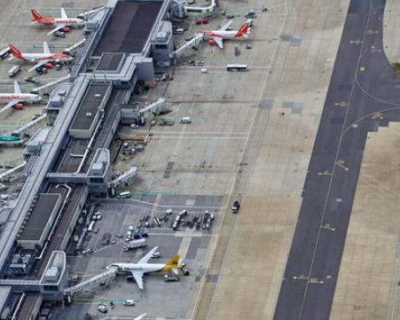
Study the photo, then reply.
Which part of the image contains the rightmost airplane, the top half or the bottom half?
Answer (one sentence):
Seen from above, the rightmost airplane lies in the top half of the view.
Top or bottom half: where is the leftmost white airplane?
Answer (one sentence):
The leftmost white airplane sits in the top half of the picture.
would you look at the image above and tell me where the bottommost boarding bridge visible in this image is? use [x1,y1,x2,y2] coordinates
[60,265,122,300]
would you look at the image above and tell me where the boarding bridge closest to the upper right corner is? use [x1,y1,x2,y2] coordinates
[184,0,217,16]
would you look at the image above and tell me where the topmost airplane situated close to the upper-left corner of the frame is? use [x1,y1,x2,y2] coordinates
[28,6,84,33]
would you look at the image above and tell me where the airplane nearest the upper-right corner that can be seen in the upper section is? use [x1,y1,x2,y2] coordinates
[205,16,256,45]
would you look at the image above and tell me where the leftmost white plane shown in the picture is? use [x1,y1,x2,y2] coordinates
[0,78,39,108]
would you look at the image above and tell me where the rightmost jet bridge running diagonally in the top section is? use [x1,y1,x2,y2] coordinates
[169,32,207,60]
